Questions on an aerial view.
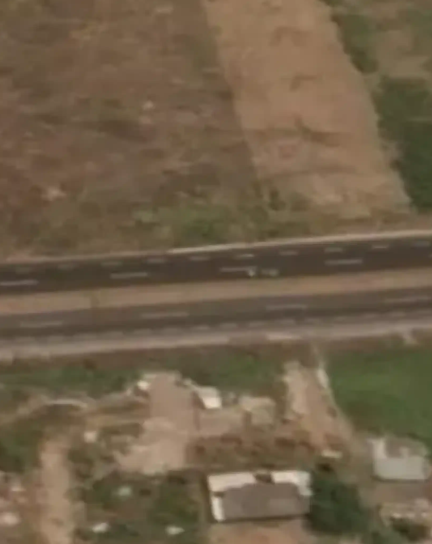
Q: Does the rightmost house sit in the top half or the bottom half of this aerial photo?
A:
bottom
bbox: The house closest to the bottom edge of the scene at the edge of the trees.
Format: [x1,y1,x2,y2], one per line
[208,470,310,526]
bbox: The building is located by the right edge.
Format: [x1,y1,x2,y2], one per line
[372,438,427,485]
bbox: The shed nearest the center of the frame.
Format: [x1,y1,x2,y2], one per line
[200,386,220,416]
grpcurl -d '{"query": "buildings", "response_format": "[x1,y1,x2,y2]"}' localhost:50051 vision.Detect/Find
[200,386,220,416]
[208,470,310,526]
[244,397,274,429]
[372,438,427,485]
